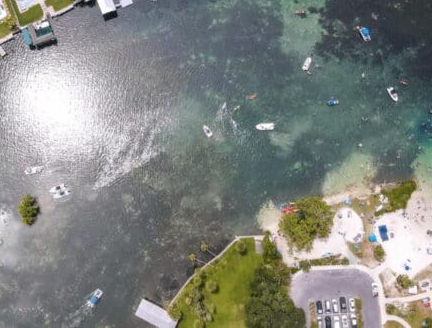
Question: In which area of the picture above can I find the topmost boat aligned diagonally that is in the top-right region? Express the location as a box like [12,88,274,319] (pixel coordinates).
[359,27,371,42]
